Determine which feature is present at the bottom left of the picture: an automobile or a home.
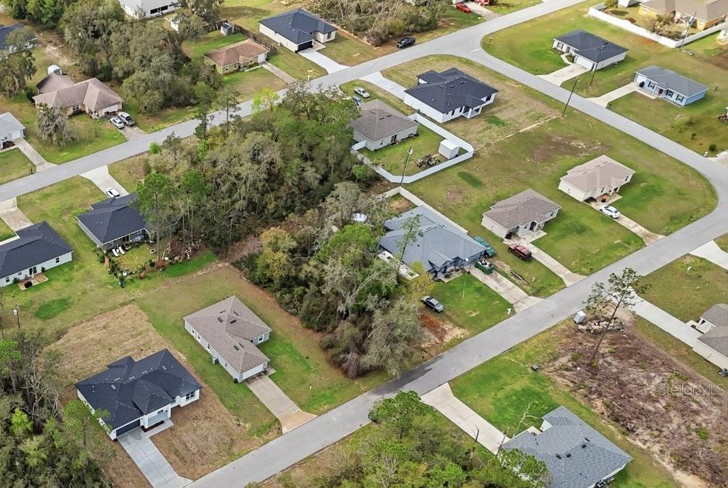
home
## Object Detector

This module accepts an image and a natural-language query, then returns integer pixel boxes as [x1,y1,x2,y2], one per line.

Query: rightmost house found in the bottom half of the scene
[694,303,728,368]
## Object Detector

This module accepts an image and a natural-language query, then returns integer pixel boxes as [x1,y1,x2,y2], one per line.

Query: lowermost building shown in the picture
[502,405,632,488]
